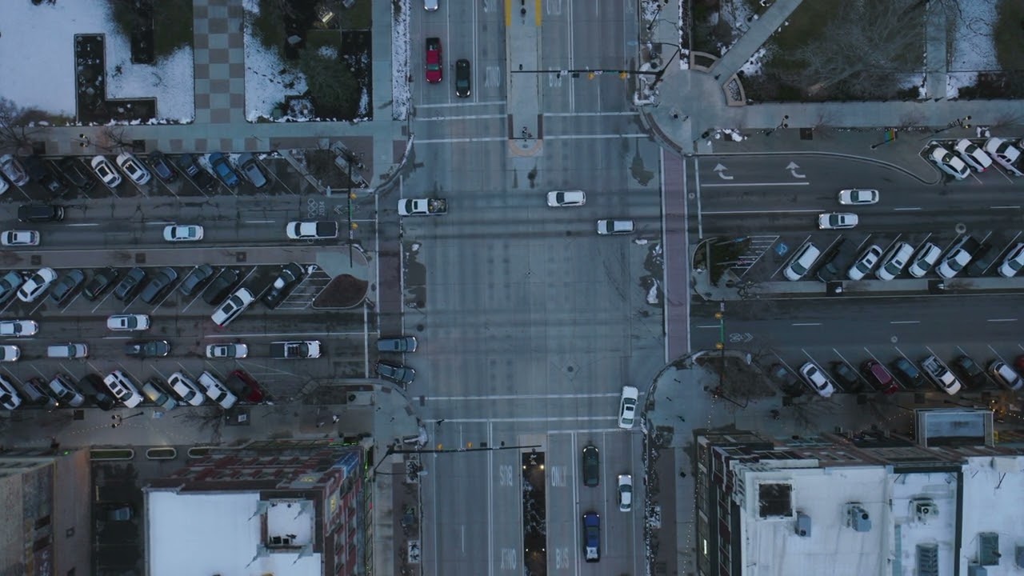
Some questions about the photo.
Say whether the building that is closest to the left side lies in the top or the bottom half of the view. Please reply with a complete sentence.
You can find the building that is closest to the left side in the bottom half.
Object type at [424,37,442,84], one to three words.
vehicle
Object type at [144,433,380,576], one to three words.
building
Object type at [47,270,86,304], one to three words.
car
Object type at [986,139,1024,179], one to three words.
truck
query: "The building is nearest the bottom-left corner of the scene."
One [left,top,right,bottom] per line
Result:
[0,445,90,576]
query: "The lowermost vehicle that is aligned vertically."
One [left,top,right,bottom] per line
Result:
[582,512,602,562]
